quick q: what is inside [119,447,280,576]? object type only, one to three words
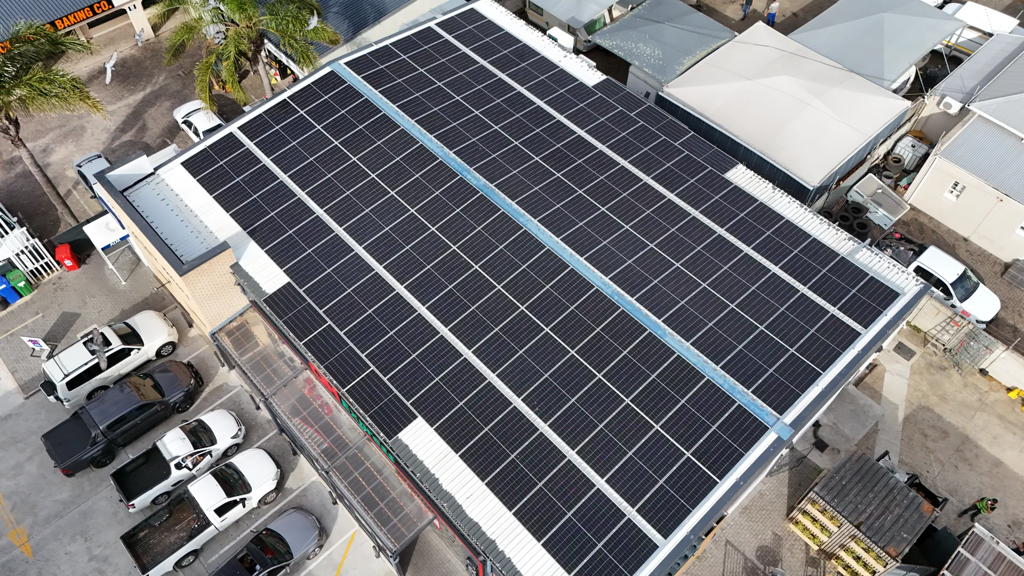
vehicle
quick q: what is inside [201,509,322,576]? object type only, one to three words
car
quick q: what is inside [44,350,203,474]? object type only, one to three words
vehicle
